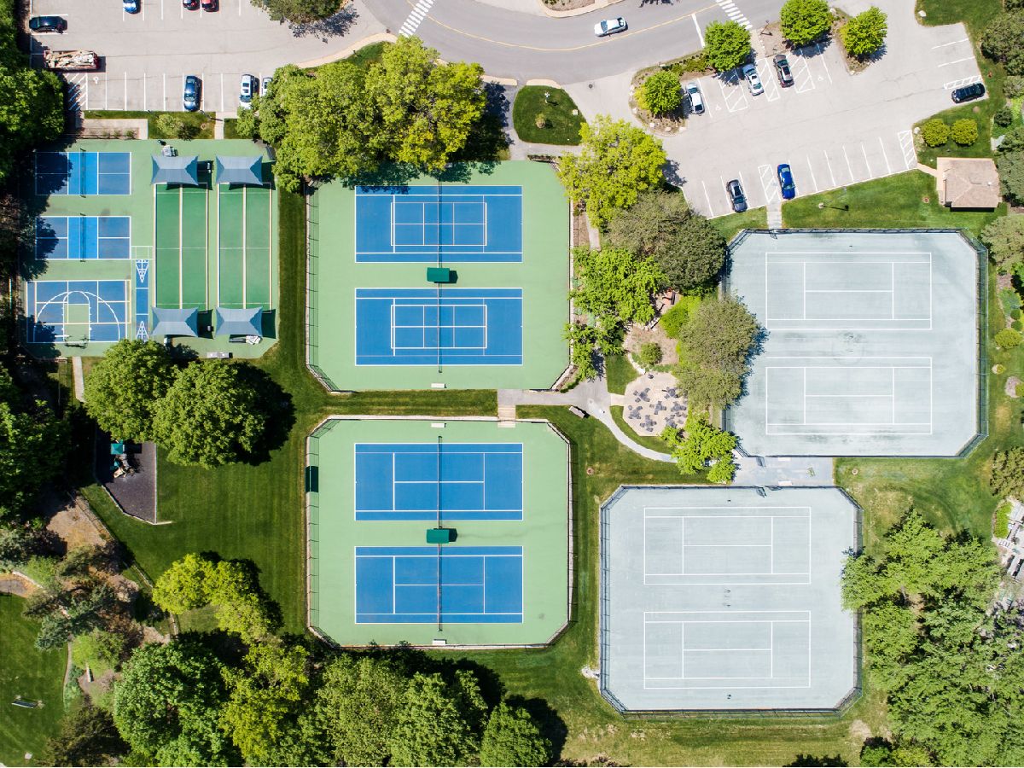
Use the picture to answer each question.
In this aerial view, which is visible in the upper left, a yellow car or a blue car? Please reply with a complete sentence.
It is a blue car that can be seen in the upper left.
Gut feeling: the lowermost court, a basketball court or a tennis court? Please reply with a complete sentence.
I'd identify the lowermost court as a tennis court.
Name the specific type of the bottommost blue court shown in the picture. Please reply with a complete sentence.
From above, the bottommost blue court can be identified as a tennis court.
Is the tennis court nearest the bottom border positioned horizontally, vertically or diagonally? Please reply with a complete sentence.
I'd say the tennis court nearest the bottom border is aligned horizontally in the picture.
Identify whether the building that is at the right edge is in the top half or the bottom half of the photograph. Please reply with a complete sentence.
Seen from above, the building that is at the right edge lies in the top half of the view.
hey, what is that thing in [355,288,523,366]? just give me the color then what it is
blue tennis court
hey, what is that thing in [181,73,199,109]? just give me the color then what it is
blue car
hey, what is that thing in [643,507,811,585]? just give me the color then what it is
white tennis court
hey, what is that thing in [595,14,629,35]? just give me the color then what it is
white car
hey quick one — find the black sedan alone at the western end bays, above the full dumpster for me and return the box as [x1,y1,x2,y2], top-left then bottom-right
[27,13,65,31]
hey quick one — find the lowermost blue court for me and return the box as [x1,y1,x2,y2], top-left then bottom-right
[355,546,523,624]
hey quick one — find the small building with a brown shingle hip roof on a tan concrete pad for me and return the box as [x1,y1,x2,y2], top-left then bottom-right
[937,160,1000,209]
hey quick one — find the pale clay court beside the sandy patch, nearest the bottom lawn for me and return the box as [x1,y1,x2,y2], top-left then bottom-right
[643,611,811,689]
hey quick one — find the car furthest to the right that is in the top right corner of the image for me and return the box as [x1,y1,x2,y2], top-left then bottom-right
[952,80,990,101]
